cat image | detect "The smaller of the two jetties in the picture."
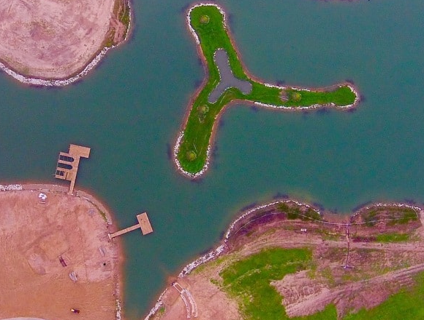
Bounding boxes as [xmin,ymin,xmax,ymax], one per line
[108,213,150,239]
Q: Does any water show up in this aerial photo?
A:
Yes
